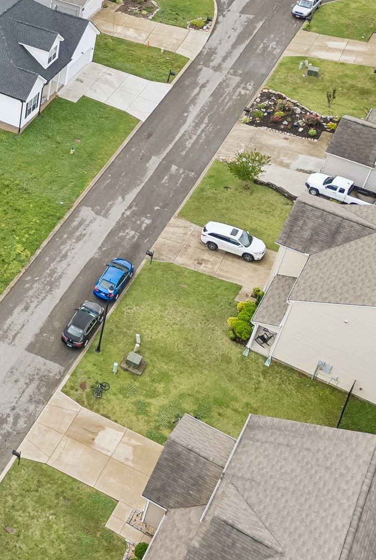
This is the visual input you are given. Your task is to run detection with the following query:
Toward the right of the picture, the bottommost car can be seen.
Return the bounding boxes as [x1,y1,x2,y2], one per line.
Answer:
[201,223,269,265]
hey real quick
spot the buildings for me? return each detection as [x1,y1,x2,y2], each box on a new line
[0,0,101,136]
[323,107,376,186]
[139,411,376,560]
[234,198,376,406]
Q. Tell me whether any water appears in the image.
No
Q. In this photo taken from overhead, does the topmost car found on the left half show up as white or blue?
blue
